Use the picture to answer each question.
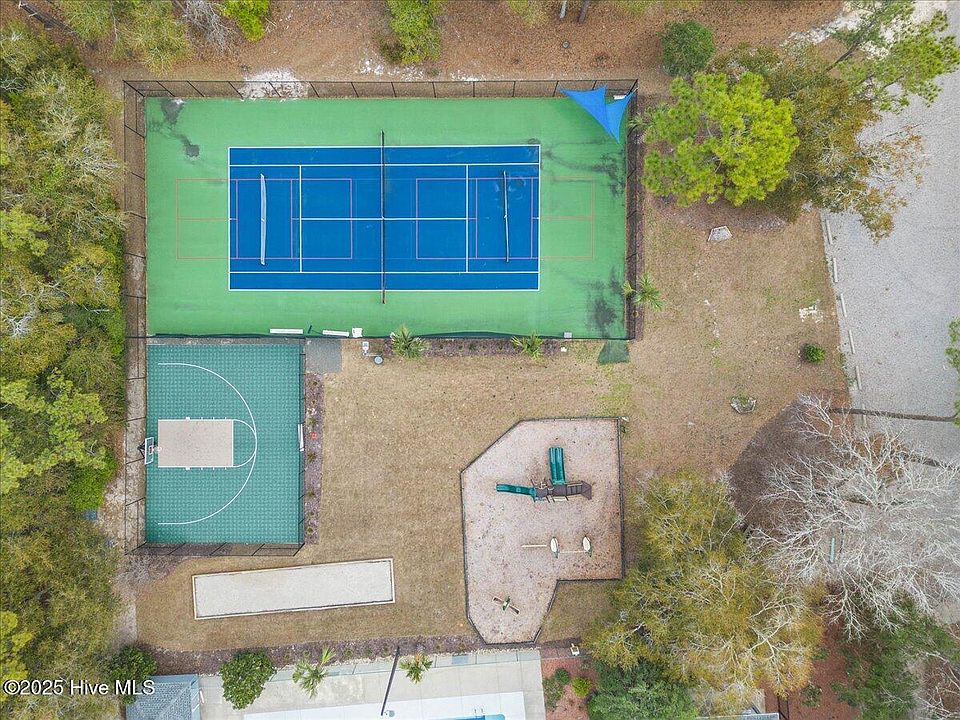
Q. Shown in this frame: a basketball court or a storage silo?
basketball court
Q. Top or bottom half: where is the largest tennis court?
top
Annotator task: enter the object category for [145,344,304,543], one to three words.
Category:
basketball court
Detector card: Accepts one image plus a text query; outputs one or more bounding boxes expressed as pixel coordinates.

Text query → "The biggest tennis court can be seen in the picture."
[146,96,631,336]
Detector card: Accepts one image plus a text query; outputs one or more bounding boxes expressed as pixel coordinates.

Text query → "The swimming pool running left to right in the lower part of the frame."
[200,651,547,720]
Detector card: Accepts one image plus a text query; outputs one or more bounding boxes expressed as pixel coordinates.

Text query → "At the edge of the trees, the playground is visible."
[461,418,623,645]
